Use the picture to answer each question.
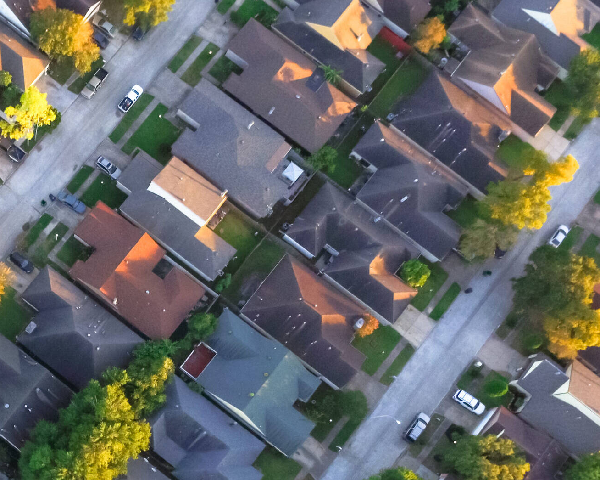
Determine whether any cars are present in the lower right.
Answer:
Yes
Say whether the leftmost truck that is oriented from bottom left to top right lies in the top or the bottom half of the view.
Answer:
top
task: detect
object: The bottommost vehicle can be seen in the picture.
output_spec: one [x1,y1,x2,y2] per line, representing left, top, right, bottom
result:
[398,409,433,446]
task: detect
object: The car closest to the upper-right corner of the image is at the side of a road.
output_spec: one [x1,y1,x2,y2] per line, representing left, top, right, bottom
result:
[545,219,572,242]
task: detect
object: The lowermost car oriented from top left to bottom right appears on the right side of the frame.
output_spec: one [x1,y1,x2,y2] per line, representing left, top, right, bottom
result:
[450,386,486,417]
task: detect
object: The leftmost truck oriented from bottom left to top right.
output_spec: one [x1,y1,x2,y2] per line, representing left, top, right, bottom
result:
[76,61,114,104]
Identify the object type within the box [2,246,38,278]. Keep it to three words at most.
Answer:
car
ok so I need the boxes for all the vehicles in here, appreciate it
[76,61,114,104]
[89,150,123,183]
[53,187,88,218]
[2,246,38,278]
[450,386,486,417]
[110,78,148,121]
[0,131,30,168]
[545,219,572,242]
[398,409,433,446]
[93,9,125,39]
[92,28,119,55]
